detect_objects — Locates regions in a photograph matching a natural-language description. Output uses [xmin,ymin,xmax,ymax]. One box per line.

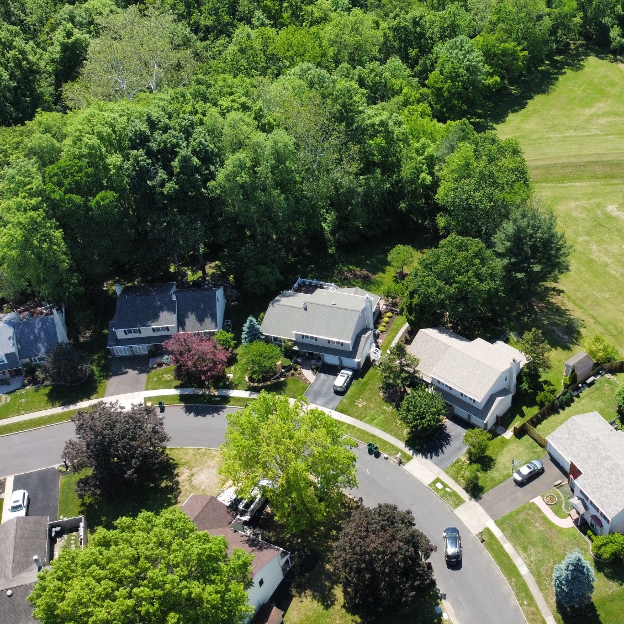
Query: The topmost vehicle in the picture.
[330,367,353,393]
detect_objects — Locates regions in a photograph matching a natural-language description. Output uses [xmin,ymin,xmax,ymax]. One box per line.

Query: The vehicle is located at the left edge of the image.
[7,486,31,519]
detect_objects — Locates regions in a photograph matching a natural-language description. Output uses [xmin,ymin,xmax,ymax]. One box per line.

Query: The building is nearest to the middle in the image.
[256,276,383,369]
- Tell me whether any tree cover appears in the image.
Yes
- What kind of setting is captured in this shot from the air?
residential area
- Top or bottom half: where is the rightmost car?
bottom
